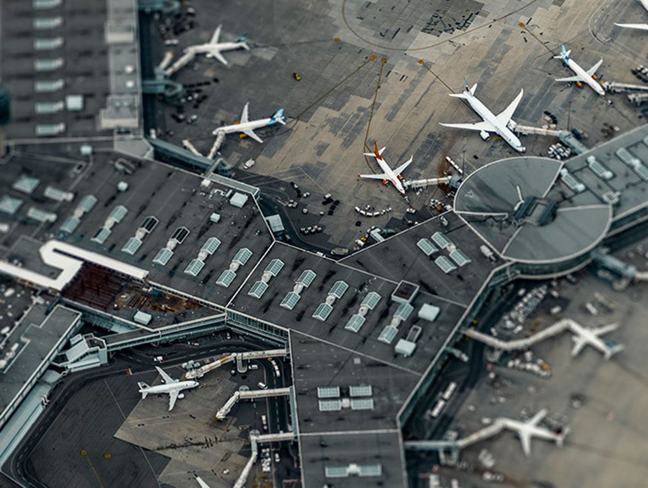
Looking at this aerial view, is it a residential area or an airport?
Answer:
airport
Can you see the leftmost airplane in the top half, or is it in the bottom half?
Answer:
bottom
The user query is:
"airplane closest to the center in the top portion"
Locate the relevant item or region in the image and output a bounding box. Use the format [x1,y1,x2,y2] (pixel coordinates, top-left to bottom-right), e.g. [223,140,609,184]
[360,145,412,195]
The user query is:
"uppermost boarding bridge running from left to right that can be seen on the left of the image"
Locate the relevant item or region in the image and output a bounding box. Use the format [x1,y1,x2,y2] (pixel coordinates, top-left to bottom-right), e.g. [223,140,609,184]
[181,350,288,381]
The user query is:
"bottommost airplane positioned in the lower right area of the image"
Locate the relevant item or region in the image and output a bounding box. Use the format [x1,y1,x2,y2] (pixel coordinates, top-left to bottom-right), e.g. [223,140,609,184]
[505,408,567,454]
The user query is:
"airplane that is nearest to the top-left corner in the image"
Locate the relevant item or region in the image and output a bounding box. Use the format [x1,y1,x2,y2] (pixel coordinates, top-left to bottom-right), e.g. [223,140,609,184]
[187,25,246,64]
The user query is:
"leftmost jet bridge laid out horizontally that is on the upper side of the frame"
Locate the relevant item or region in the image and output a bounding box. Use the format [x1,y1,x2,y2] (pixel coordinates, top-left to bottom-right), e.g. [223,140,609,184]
[406,176,458,195]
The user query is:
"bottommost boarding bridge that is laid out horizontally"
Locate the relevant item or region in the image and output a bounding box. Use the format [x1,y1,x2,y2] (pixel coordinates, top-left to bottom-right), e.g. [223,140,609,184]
[403,416,506,453]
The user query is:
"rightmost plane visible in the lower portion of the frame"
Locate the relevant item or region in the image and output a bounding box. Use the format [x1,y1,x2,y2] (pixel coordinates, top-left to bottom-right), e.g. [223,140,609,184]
[568,319,622,360]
